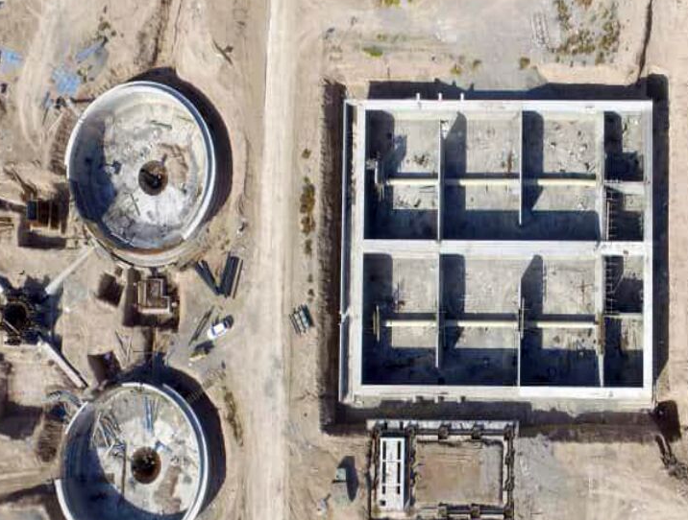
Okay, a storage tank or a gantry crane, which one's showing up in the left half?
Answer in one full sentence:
The one visible in the left half is a storage tank.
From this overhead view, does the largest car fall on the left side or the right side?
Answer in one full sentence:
The largest car is on the left side of the image.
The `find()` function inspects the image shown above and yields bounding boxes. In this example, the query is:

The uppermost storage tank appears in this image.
[66,80,229,262]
